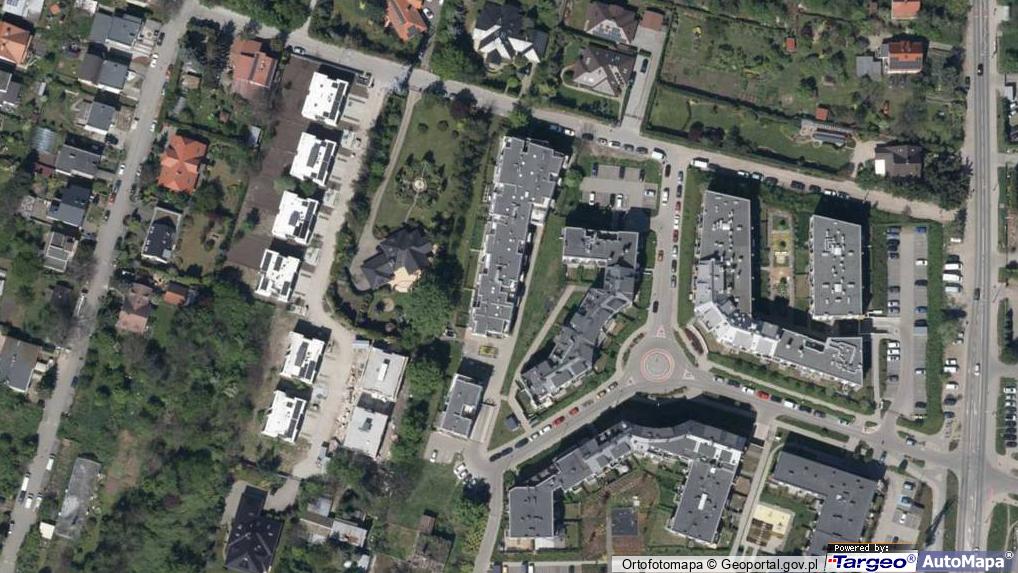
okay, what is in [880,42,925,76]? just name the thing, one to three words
house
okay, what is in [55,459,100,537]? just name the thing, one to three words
barn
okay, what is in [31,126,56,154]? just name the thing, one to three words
greenhouse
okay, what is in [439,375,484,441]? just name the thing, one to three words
building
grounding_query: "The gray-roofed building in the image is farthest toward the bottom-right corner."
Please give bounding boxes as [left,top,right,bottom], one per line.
[765,452,877,573]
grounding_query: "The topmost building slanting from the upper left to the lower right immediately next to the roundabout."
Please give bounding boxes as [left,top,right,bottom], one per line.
[689,191,862,393]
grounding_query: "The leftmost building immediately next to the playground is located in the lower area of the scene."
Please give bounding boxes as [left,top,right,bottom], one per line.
[506,420,746,550]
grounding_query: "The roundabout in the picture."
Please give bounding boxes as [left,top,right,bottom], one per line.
[624,324,706,395]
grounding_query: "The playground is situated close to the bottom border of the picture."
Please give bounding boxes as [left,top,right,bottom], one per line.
[745,500,797,550]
